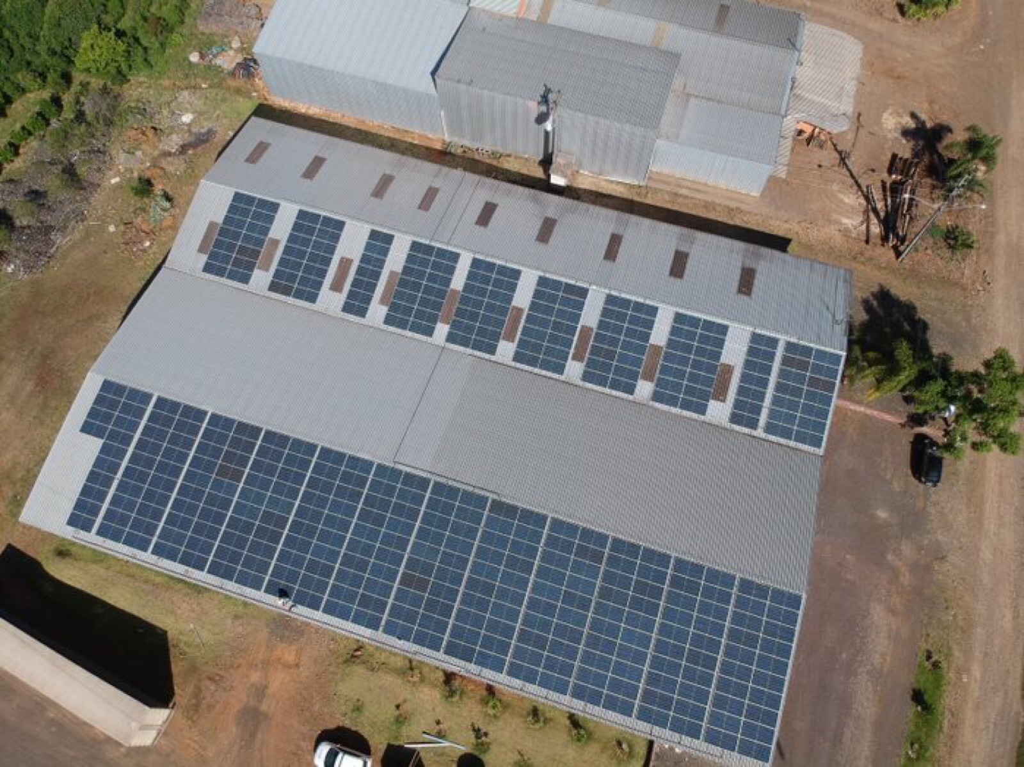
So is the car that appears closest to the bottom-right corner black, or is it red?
black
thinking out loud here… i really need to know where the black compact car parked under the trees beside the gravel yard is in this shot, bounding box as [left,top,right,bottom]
[911,436,945,489]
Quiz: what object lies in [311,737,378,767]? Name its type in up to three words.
car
